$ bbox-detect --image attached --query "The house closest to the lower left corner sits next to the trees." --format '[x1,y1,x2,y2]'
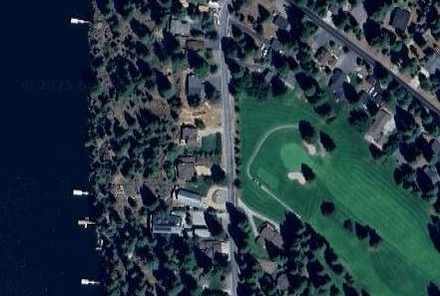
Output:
[152,213,187,234]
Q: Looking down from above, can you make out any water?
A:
Yes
